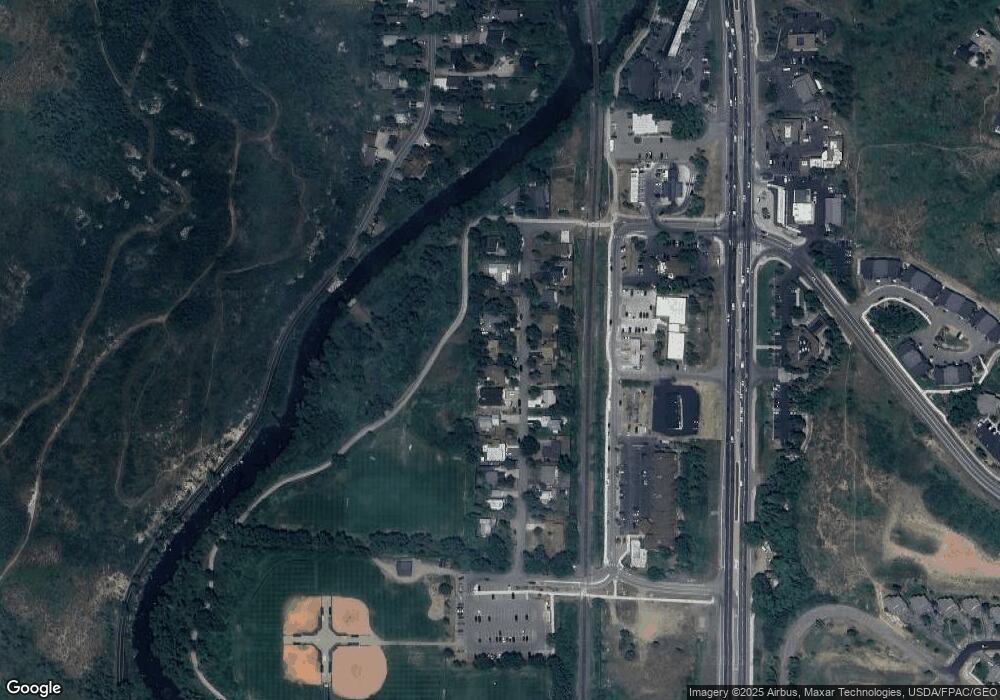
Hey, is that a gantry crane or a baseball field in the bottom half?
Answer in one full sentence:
The one visible in the bottom half is a baseball field.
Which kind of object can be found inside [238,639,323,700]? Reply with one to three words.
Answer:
baseball field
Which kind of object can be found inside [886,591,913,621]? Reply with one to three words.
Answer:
house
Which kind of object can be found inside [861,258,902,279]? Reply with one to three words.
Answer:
building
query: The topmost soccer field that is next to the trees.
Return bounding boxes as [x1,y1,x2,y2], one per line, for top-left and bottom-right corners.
[254,447,475,536]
